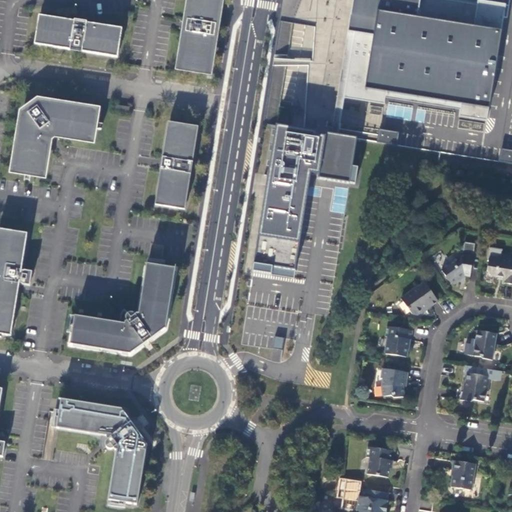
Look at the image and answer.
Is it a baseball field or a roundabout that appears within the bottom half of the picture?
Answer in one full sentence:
There is a roundabout within the bottom half of the picture.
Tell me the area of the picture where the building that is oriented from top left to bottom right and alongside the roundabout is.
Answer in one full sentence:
The building that is oriented from top left to bottom right and alongside the roundabout is located in the bottom left region of the scene.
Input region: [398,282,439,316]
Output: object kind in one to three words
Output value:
house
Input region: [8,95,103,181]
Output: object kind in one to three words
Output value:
building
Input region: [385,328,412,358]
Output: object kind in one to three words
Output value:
house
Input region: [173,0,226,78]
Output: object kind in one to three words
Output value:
building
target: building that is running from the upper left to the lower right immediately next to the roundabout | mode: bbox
[54,397,149,512]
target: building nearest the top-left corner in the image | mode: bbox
[33,12,124,61]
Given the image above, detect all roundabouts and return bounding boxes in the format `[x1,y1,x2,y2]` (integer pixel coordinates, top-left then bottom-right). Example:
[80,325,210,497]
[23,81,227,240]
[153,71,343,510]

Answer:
[156,352,235,432]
